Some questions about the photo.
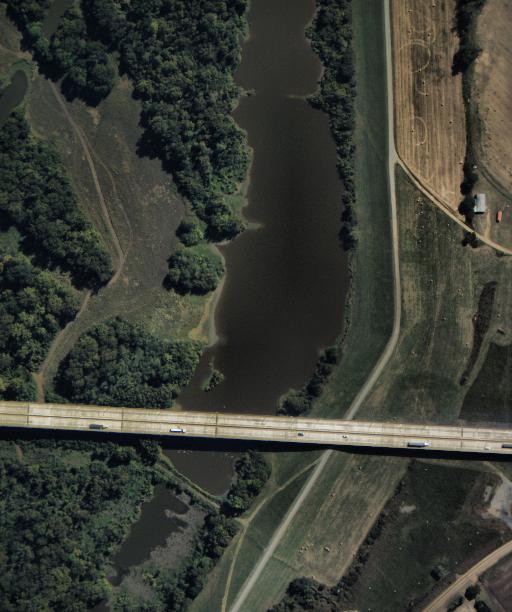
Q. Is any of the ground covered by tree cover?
Yes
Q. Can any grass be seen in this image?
Yes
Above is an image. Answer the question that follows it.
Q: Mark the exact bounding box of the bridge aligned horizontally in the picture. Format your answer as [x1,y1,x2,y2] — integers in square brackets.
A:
[0,401,512,454]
